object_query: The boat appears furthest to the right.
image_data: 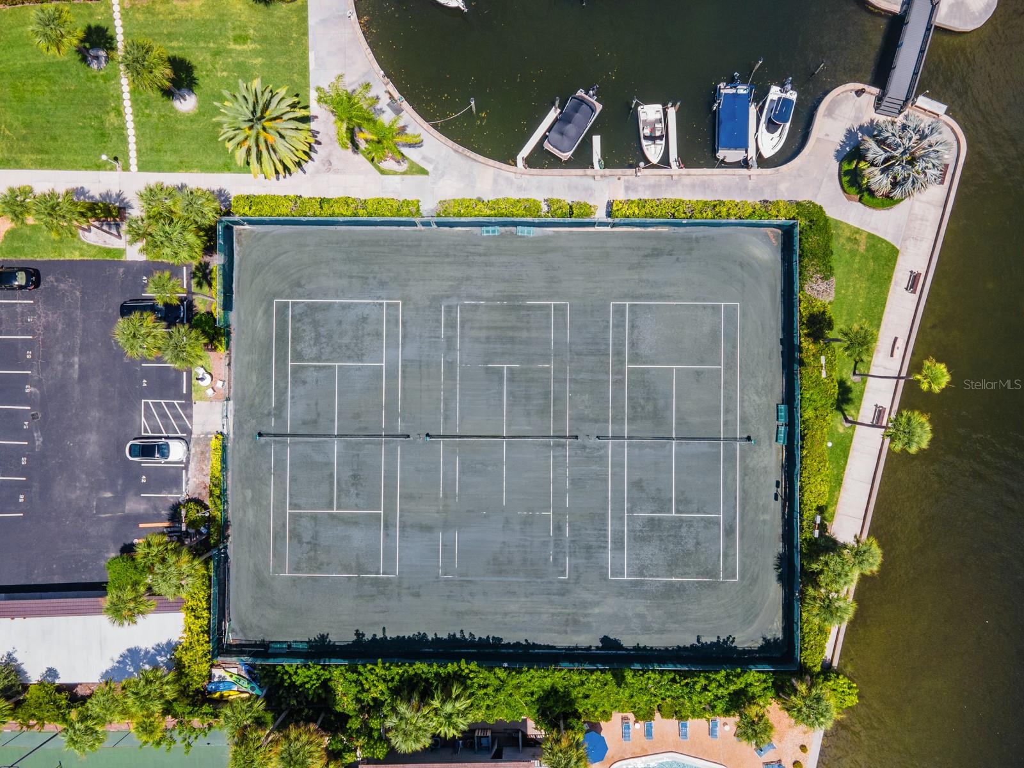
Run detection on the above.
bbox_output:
[760,77,800,157]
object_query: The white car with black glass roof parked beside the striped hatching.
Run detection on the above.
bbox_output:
[127,436,187,463]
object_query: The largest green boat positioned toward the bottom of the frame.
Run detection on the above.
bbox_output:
[222,670,262,696]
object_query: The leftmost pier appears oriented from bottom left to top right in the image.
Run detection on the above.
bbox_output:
[518,108,560,166]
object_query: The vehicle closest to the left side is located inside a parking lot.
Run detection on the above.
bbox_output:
[0,265,43,292]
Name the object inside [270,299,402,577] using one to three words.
tennis court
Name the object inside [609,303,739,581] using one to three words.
tennis court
